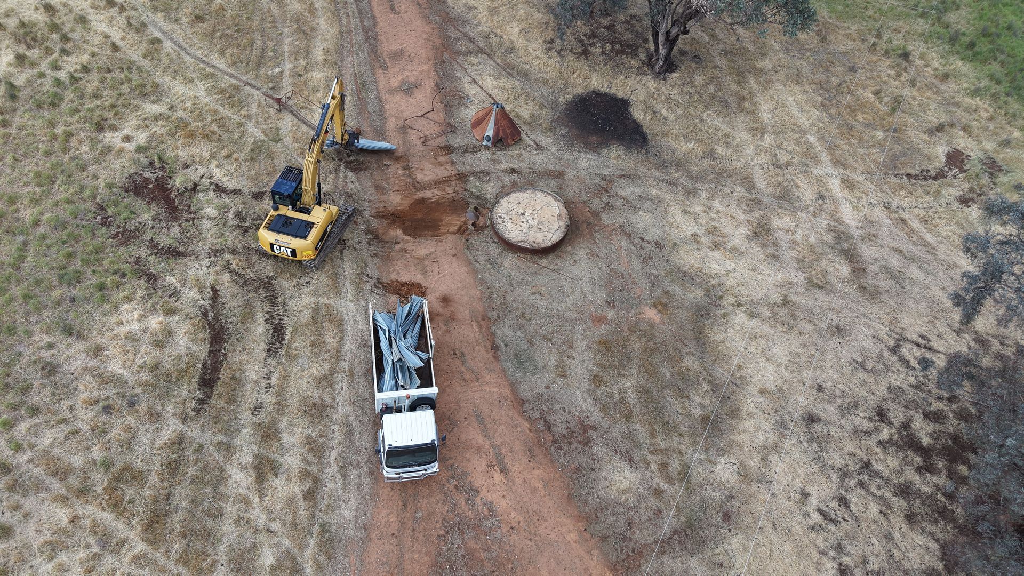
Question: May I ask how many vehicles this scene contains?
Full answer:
Altogether the scene contains 2 vehicles.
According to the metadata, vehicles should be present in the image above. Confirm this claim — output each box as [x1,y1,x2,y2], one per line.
[368,298,445,484]
[258,76,365,273]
